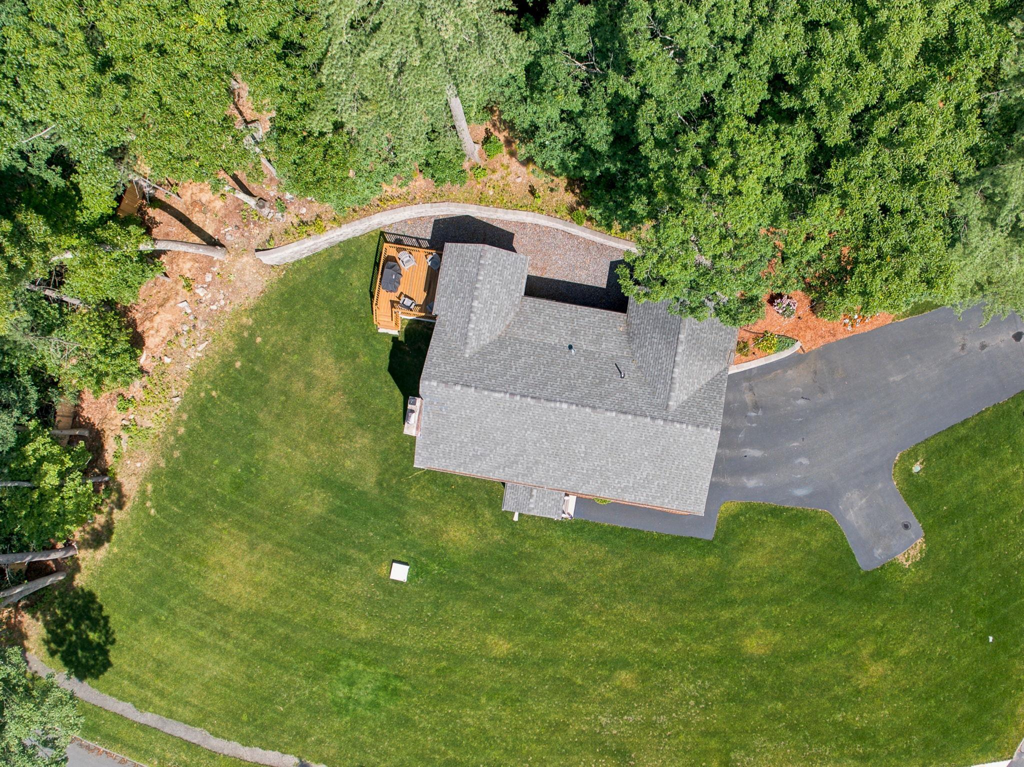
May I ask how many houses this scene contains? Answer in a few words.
1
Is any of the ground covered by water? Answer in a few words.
No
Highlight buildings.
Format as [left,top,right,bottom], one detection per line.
[403,243,742,520]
